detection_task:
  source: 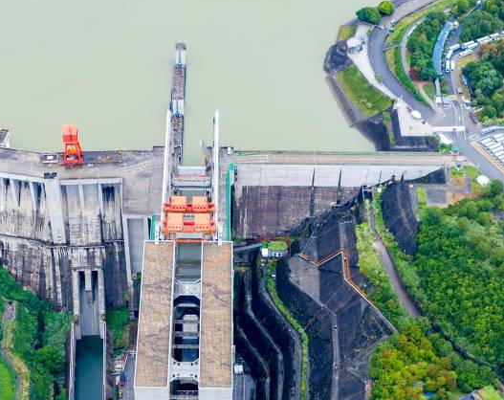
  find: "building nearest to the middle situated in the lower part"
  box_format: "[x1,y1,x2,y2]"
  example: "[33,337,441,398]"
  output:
[260,242,288,259]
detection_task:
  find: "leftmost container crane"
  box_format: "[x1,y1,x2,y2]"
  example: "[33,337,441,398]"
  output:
[59,118,85,165]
